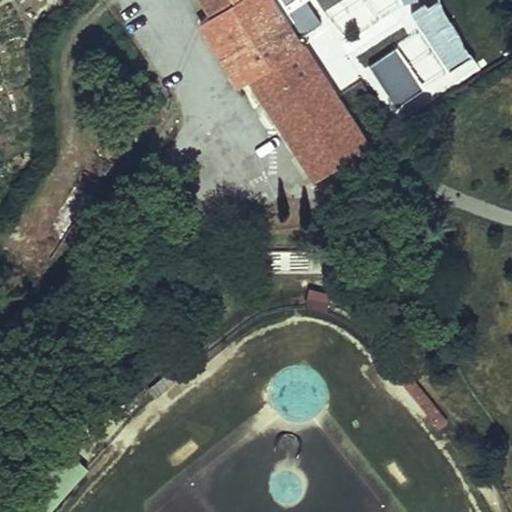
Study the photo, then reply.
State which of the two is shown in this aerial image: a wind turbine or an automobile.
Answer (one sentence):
Visible in the photo is an automobile.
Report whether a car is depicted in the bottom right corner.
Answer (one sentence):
No, in the bottom right corner there is no car.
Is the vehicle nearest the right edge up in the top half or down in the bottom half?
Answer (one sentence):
The vehicle nearest the right edge is in the top half of the image.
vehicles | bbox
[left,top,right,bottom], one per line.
[162,70,183,88]
[120,2,142,20]
[254,138,280,159]
[126,15,148,33]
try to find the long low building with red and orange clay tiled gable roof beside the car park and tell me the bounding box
[200,0,370,184]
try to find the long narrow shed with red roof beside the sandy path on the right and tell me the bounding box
[406,380,448,430]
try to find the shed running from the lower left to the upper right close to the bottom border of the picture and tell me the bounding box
[38,466,88,512]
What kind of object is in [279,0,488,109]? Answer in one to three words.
building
